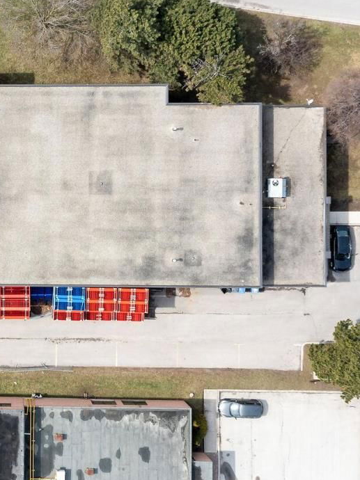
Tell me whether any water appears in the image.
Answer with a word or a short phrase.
No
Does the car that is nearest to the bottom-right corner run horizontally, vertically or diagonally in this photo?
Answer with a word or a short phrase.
horizontally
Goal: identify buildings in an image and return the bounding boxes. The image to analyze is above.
[24,398,191,480]
[0,85,262,286]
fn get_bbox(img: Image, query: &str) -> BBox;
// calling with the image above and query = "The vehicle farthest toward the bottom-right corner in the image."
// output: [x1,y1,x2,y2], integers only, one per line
[218,397,263,420]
